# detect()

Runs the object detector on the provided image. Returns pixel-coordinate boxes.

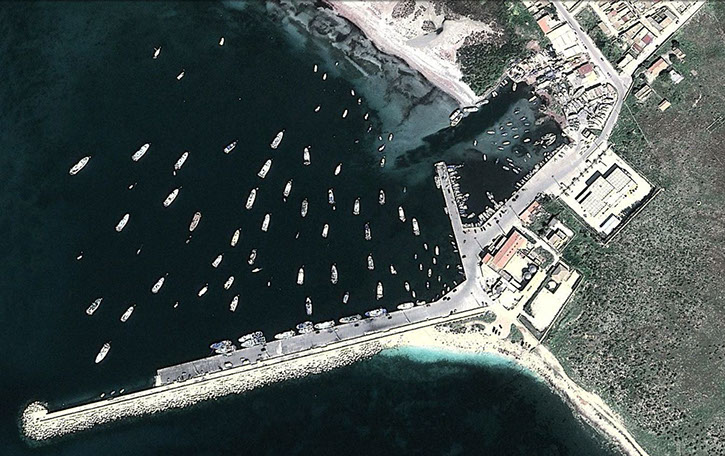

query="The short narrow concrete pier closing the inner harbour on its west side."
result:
[435,160,462,241]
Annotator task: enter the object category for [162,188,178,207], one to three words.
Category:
boat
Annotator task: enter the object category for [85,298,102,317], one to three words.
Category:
boat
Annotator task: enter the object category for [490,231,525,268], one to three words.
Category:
building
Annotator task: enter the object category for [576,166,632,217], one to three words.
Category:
building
